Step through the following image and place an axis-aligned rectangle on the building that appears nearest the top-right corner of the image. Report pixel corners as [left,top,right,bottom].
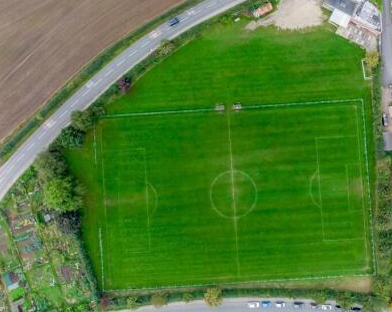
[322,0,382,35]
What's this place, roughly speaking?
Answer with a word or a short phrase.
sports ground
